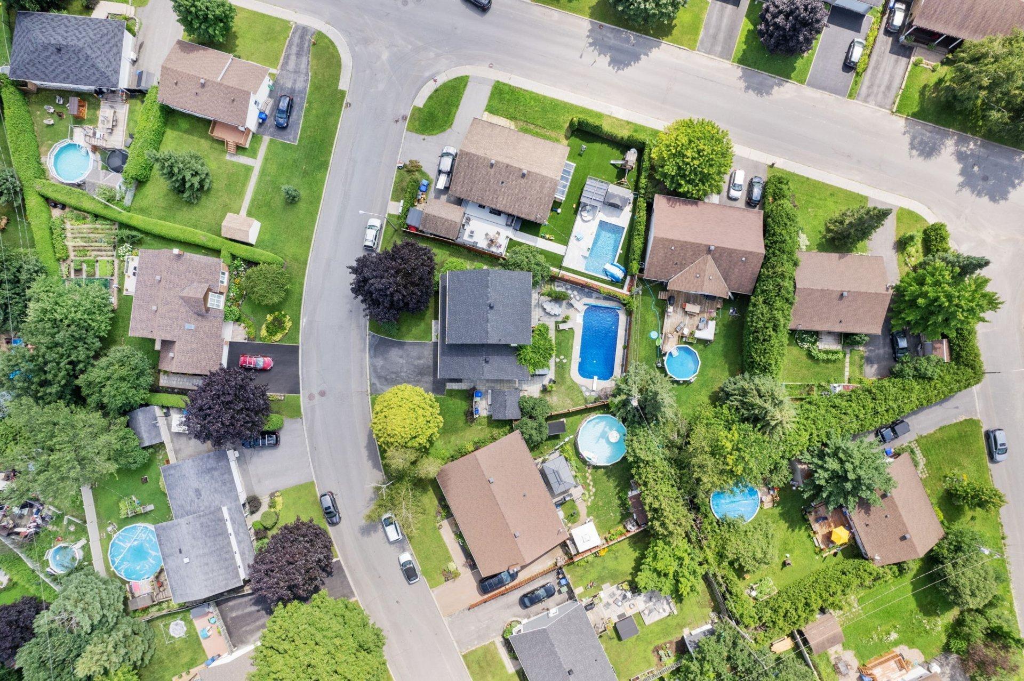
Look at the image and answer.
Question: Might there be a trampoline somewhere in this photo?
Yes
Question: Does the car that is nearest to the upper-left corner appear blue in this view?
Yes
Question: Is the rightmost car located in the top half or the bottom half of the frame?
bottom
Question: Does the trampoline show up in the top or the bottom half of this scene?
top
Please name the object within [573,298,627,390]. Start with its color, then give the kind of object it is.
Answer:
blue swimming pool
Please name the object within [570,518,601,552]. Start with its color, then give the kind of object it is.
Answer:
white gazebo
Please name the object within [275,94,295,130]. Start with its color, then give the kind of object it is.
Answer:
blue car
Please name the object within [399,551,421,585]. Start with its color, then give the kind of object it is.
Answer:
white car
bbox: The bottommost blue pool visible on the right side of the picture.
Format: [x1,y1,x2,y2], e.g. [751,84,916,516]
[709,477,760,526]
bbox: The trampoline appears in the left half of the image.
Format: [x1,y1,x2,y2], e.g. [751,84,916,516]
[96,145,125,171]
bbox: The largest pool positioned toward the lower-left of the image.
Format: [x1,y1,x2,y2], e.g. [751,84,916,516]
[108,523,163,580]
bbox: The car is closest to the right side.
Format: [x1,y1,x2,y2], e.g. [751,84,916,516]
[984,428,1006,463]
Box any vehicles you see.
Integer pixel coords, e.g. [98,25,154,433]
[399,551,421,585]
[984,428,1006,463]
[364,218,382,250]
[517,581,557,609]
[239,354,275,370]
[464,0,493,16]
[245,432,281,450]
[884,2,905,33]
[435,147,456,189]
[744,176,763,207]
[383,511,403,544]
[320,489,342,525]
[874,418,912,444]
[478,570,519,596]
[844,38,864,70]
[726,168,745,200]
[275,94,295,130]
